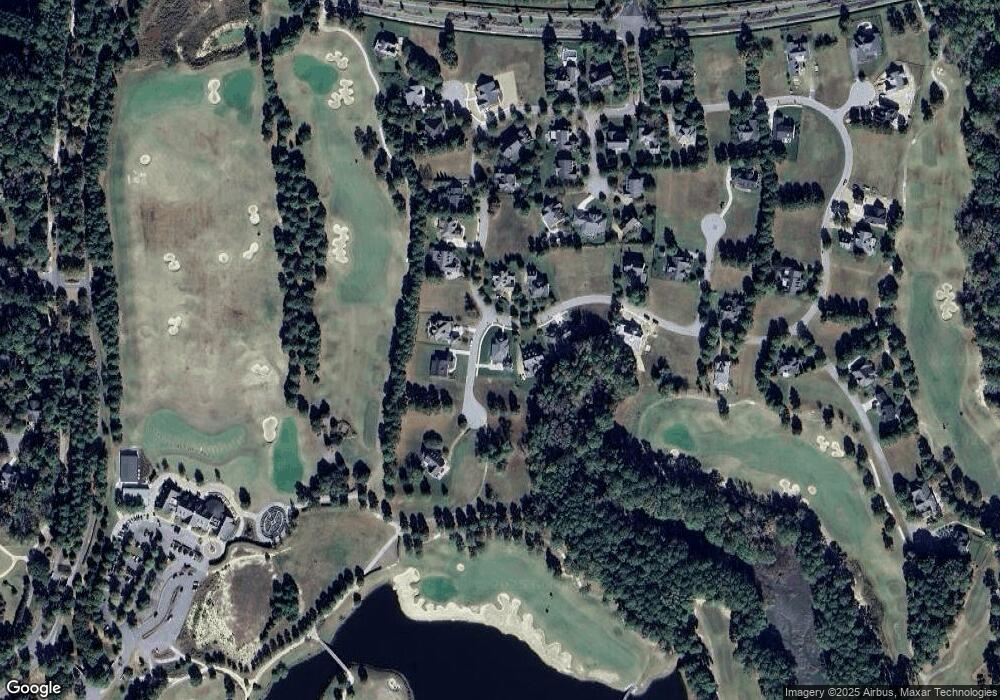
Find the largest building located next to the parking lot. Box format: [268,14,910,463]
[159,486,236,545]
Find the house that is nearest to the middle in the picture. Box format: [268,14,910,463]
[490,332,510,362]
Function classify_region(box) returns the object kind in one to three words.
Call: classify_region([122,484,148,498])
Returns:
shed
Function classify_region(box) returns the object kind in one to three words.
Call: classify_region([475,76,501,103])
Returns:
house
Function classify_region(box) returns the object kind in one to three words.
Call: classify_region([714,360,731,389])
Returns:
house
